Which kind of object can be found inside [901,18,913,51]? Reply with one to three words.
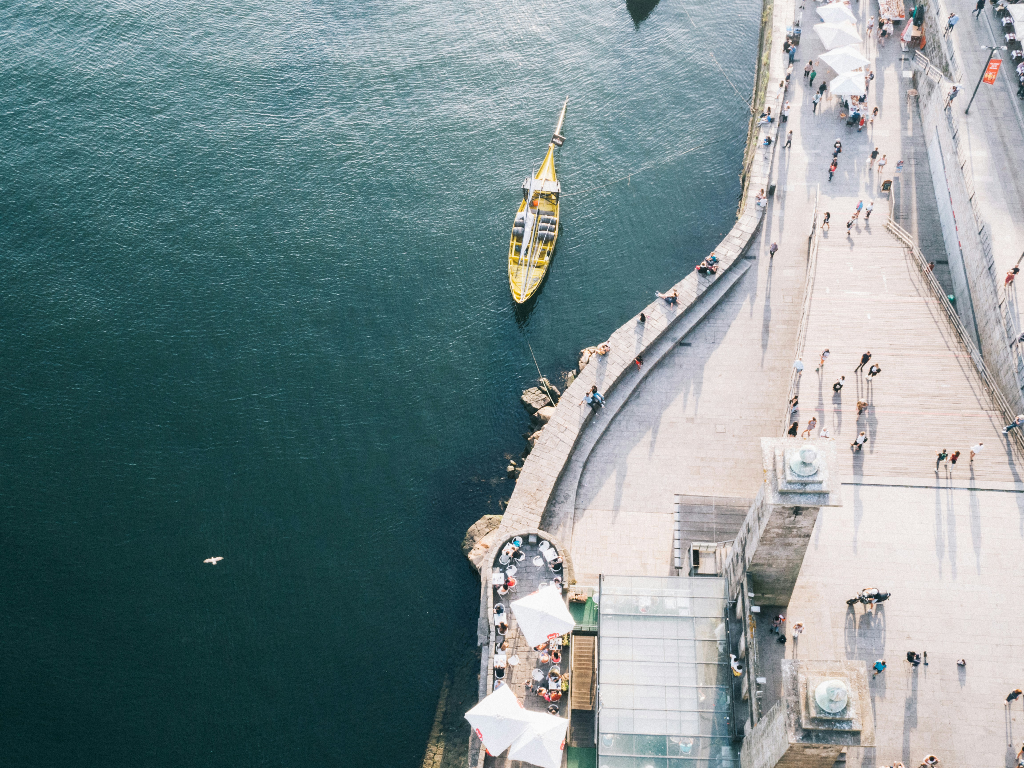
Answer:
umbrella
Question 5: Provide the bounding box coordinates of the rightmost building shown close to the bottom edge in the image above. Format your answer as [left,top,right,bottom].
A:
[592,569,740,768]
